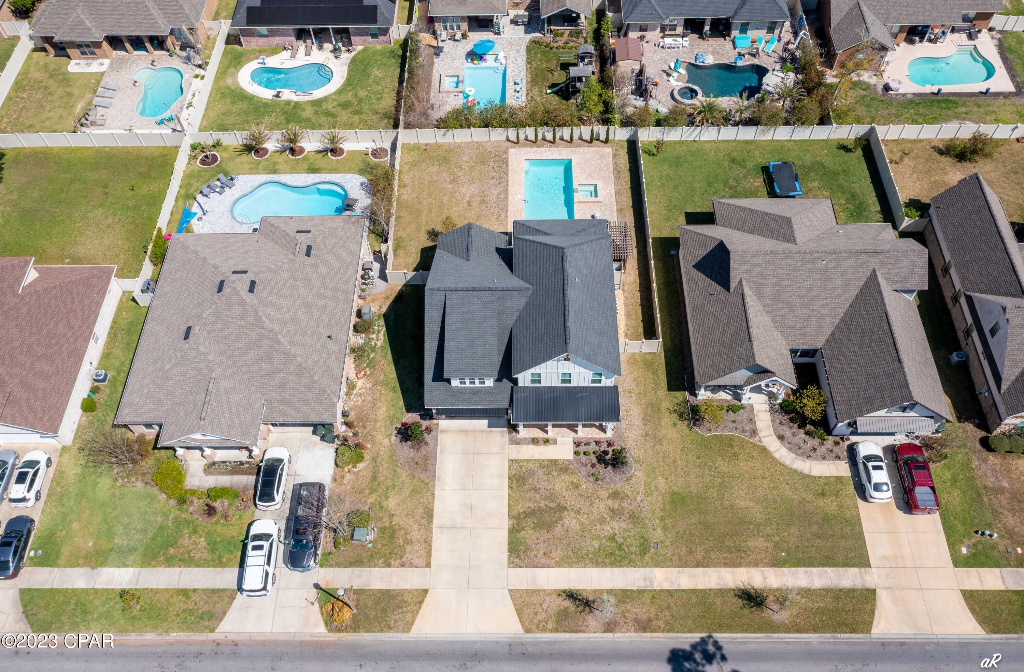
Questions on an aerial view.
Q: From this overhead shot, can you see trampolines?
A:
Yes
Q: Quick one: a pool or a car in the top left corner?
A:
pool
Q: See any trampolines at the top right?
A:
Yes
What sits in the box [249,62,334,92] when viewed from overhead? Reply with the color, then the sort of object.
blue swimming pool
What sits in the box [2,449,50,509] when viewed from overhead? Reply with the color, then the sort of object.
white car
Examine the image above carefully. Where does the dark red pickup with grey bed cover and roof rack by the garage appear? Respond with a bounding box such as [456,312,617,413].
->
[894,443,944,517]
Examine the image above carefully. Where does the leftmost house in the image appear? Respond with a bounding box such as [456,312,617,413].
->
[0,256,118,446]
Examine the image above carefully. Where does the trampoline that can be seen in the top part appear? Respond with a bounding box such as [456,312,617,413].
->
[768,160,801,198]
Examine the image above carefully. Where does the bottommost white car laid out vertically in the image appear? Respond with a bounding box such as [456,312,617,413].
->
[239,519,280,594]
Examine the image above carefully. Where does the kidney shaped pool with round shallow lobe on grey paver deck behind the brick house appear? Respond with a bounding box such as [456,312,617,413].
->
[132,64,186,119]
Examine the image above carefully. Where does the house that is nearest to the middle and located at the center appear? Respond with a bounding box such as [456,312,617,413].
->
[424,218,621,439]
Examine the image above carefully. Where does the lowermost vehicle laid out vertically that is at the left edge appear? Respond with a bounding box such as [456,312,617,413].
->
[0,513,32,581]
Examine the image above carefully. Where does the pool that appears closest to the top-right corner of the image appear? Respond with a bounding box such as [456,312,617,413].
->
[906,43,997,87]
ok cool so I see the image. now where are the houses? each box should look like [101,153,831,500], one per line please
[675,198,953,433]
[620,0,790,39]
[810,0,1003,72]
[0,256,118,446]
[31,0,216,62]
[427,0,541,36]
[230,0,397,48]
[119,214,367,460]
[921,172,1024,434]
[424,218,621,439]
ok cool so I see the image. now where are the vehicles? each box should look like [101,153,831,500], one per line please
[894,443,944,517]
[0,513,32,581]
[2,449,50,509]
[856,439,898,504]
[283,488,323,571]
[0,449,18,502]
[239,519,280,594]
[252,444,290,509]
